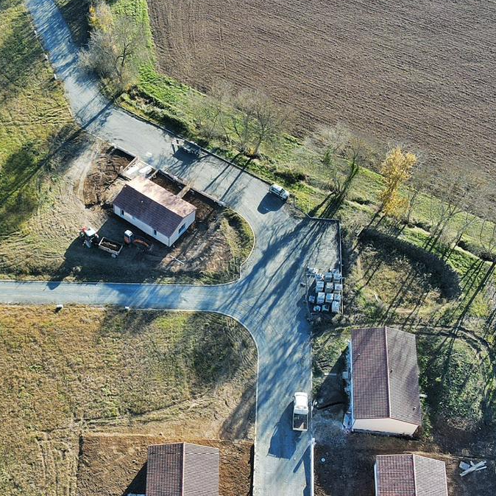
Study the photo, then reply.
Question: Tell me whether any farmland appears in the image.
Yes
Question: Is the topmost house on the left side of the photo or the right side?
left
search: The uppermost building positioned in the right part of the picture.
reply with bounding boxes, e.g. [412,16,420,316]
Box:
[349,327,423,432]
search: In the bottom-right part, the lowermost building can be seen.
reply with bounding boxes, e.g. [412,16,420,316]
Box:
[374,455,449,496]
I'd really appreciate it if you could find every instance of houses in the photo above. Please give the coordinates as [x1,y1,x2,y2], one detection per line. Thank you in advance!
[374,455,449,496]
[349,327,423,432]
[113,175,196,253]
[145,442,220,496]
